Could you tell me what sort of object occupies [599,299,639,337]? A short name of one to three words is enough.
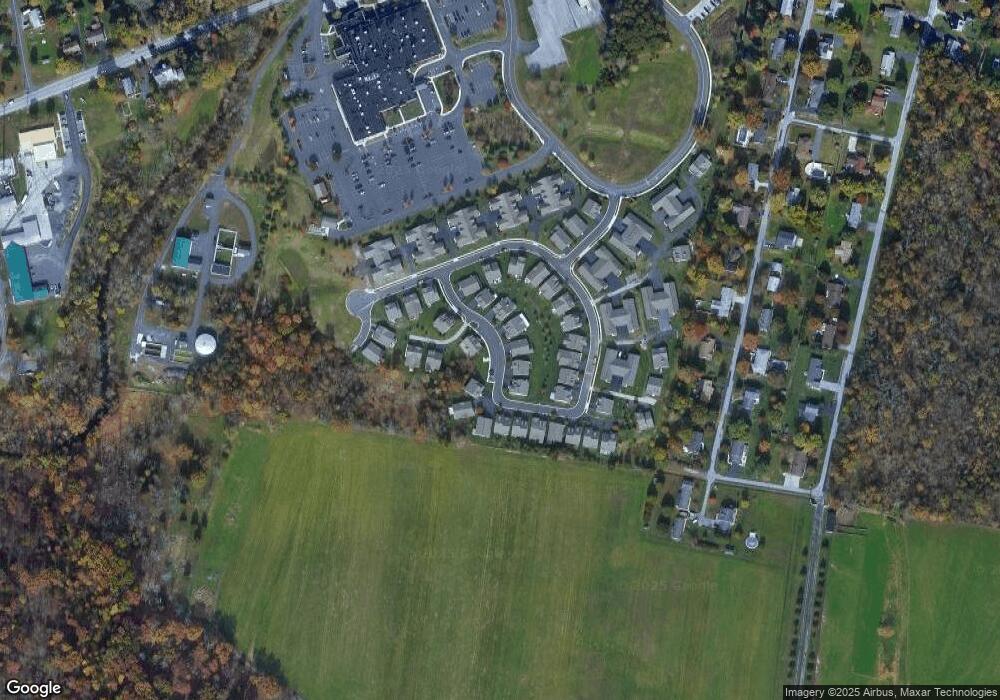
building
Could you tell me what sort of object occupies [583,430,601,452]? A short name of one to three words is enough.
house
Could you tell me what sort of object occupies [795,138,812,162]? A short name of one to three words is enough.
house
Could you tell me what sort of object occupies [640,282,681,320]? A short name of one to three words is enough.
building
